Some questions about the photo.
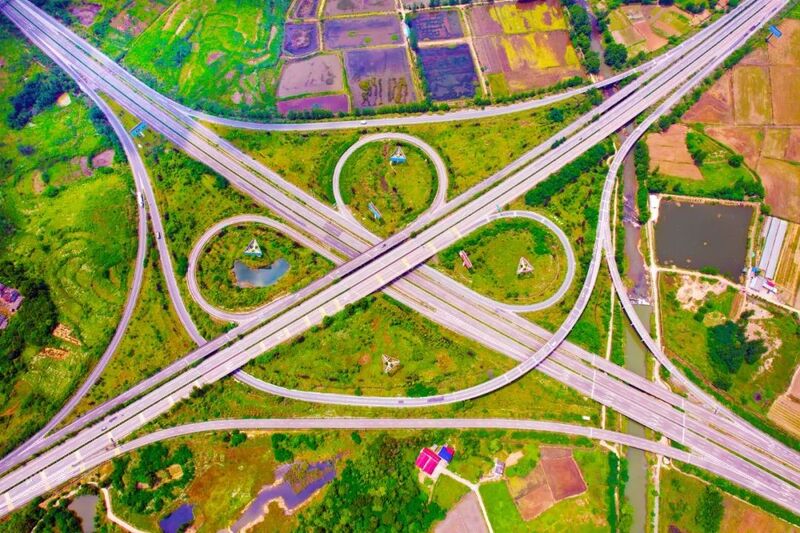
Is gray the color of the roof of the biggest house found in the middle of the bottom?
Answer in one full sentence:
No, the color of the roof of the biggest house found in the middle of the bottom is pink.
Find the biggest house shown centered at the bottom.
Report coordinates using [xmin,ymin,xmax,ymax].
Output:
[414,448,441,474]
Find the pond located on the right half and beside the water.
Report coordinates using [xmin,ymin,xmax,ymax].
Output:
[656,200,755,284]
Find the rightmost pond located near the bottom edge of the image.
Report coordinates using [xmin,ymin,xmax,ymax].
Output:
[230,451,349,533]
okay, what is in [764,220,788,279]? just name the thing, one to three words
shed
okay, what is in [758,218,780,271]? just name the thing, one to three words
shed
